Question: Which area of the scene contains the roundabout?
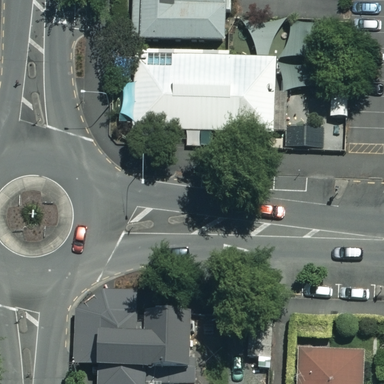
left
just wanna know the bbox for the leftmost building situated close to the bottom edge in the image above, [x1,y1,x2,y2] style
[73,288,195,384]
